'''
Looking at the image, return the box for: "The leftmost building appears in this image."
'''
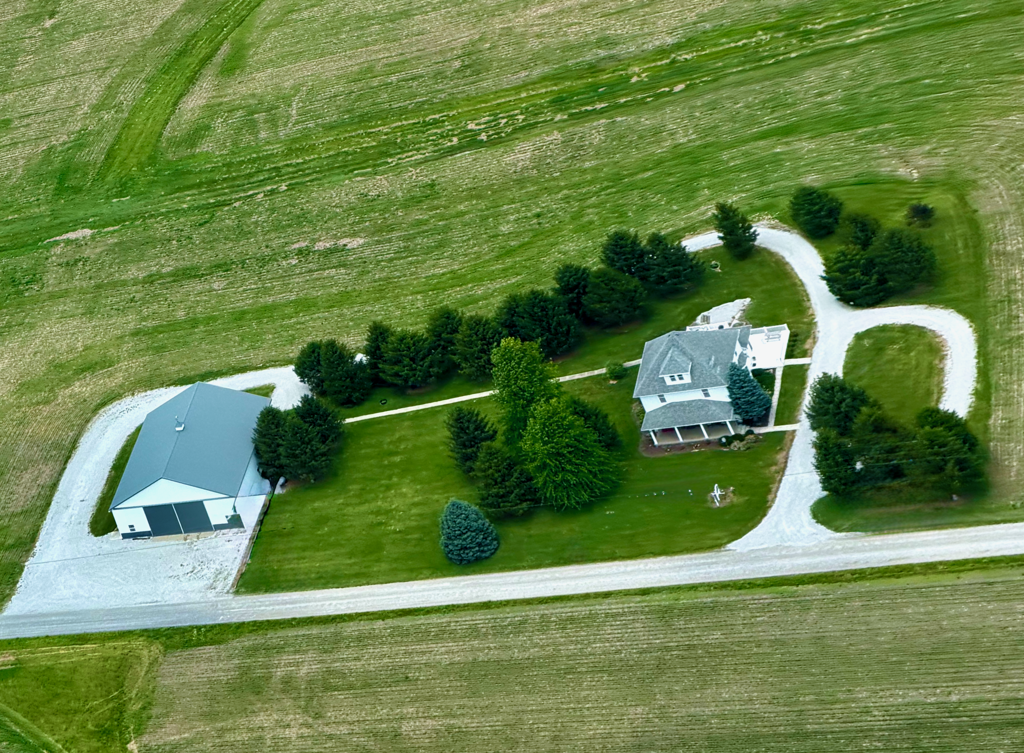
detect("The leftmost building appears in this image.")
[108,381,278,540]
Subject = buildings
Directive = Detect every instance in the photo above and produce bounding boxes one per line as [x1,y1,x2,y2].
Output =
[108,381,278,540]
[632,324,757,451]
